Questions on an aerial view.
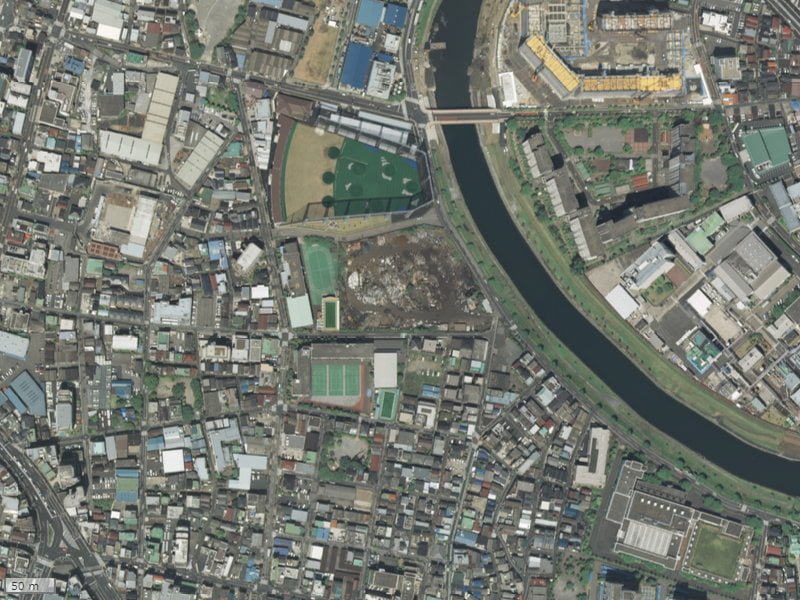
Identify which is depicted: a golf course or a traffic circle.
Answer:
golf course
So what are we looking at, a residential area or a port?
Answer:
residential area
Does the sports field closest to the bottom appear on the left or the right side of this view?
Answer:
right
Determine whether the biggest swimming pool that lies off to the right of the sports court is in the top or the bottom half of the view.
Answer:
bottom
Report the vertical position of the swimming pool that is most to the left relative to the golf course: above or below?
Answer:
below it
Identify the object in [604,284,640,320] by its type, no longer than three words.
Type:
building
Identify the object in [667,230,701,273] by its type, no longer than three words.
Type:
building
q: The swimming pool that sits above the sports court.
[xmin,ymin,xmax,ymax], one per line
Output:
[316,302,339,331]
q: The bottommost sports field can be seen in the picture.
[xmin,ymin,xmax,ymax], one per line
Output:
[681,511,753,586]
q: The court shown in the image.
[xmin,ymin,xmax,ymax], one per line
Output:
[300,362,368,415]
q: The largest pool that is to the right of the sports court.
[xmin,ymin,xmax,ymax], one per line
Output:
[376,390,399,422]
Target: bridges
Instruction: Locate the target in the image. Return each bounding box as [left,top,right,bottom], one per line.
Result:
[418,98,503,146]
